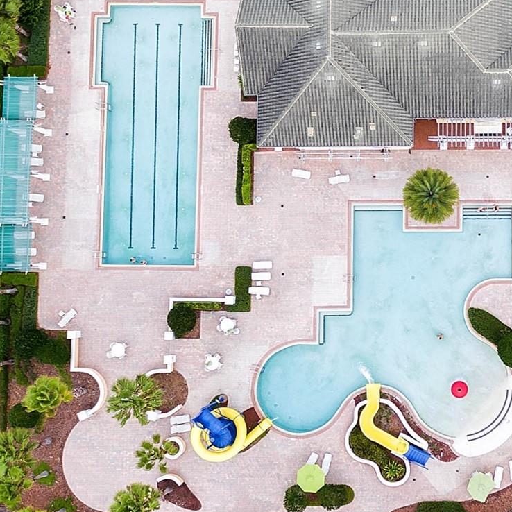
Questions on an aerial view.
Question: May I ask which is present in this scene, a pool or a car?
pool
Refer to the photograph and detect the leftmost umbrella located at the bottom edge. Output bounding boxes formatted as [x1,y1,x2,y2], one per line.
[296,463,325,491]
